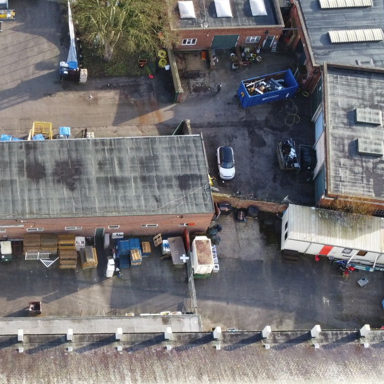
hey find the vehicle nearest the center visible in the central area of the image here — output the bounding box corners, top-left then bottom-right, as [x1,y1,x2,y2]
[216,150,237,182]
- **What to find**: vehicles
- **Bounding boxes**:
[0,239,12,269]
[216,150,237,182]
